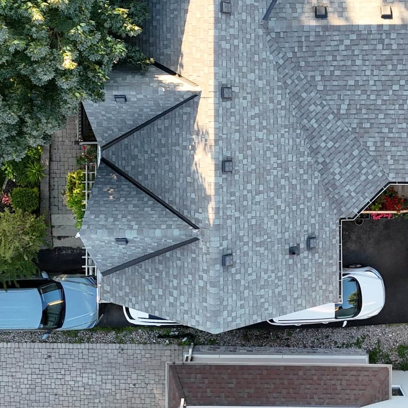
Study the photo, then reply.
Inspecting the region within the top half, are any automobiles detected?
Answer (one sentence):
No, I can find no automobile within the top half.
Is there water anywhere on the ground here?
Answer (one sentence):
No, there is no water in the image.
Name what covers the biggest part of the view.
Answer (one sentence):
The scene is dominated by buildings.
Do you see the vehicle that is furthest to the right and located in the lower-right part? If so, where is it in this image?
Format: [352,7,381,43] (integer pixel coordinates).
[272,266,386,327]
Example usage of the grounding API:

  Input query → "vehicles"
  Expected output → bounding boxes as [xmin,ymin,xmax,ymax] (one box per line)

[0,270,103,336]
[272,266,386,327]
[124,307,185,332]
